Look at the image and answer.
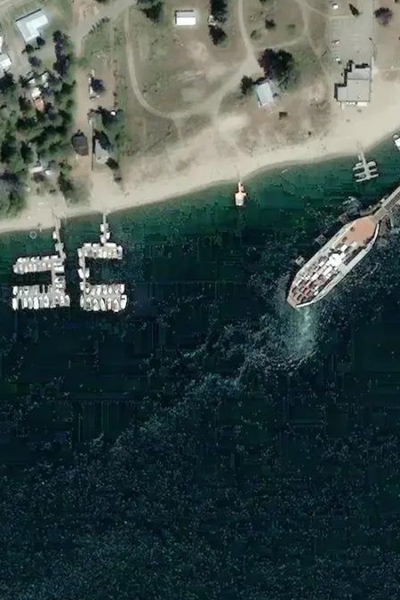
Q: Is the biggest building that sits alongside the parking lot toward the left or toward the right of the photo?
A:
right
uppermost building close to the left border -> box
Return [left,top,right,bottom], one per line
[18,11,44,41]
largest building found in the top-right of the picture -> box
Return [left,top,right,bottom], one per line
[339,69,372,101]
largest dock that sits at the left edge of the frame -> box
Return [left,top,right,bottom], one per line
[11,218,67,308]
